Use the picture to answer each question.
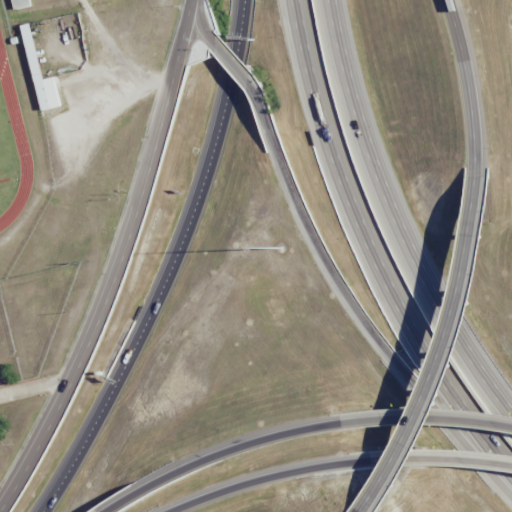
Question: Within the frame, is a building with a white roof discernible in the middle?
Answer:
No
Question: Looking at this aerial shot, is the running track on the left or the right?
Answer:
left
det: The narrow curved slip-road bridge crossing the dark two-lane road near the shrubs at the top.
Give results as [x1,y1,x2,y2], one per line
[208,41,284,153]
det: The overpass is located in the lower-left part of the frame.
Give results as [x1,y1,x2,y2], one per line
[86,462,172,512]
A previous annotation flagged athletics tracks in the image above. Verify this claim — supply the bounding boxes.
[0,14,34,233]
